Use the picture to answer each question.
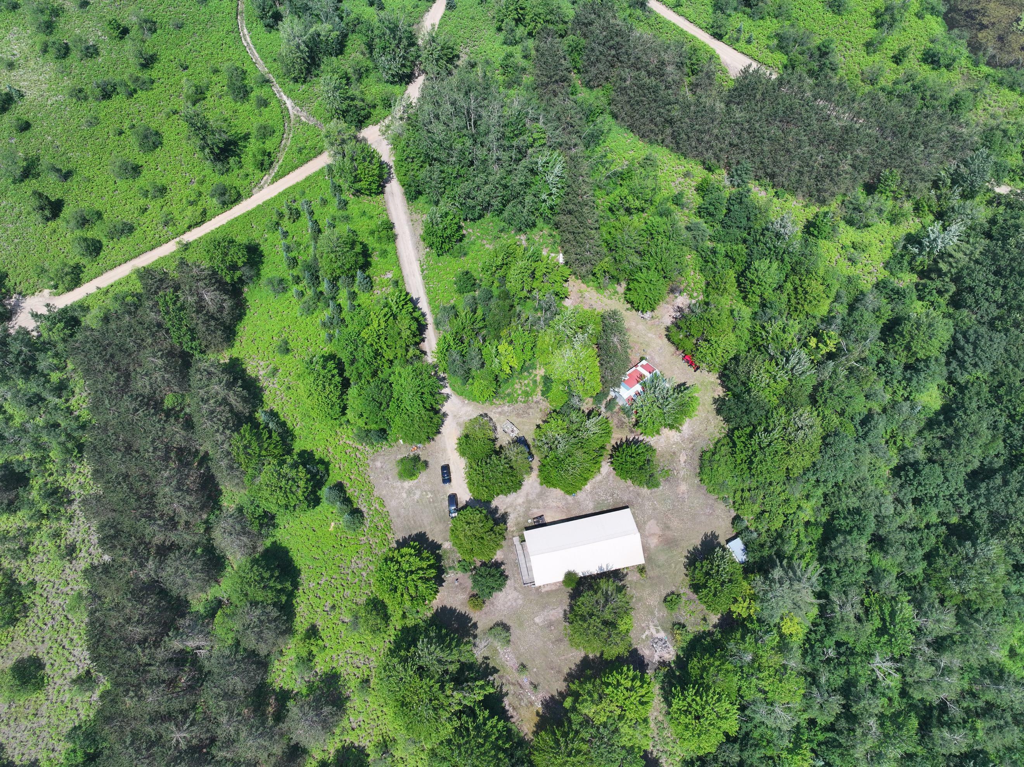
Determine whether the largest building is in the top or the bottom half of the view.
bottom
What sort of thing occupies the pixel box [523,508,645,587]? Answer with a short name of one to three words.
building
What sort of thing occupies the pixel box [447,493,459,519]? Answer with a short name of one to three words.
vehicle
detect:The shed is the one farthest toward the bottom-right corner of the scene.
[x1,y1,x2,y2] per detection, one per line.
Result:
[727,537,751,563]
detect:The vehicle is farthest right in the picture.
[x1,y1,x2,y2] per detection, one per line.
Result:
[677,354,698,373]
